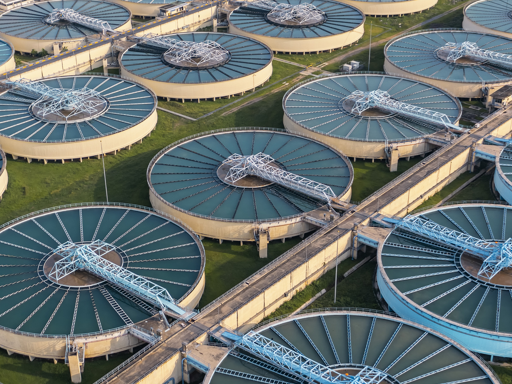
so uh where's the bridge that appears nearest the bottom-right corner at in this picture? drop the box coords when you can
[380,215,502,261]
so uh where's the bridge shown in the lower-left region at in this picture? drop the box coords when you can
[78,246,188,317]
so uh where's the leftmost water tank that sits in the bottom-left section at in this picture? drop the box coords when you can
[0,202,206,384]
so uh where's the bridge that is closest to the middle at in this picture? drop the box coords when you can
[249,156,350,208]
